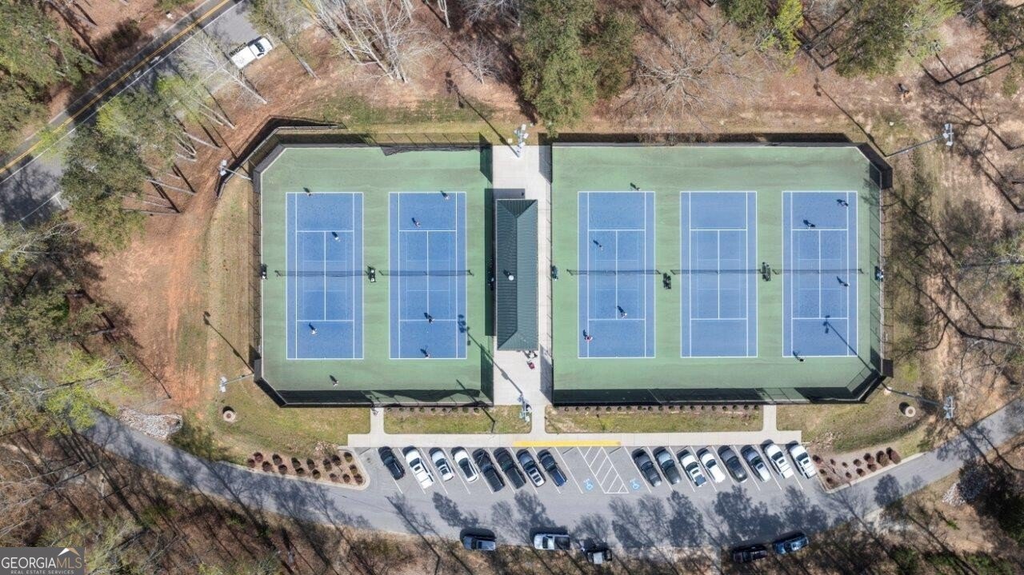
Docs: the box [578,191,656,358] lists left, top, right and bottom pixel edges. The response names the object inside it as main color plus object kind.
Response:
blue tennis court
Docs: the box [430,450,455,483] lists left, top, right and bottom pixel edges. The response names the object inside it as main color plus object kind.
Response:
white car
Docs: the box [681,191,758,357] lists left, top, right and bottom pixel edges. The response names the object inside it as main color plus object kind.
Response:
blue tennis court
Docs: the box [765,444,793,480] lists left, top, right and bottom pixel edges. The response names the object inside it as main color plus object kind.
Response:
white car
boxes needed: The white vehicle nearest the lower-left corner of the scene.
[404,450,433,488]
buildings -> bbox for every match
[495,199,538,351]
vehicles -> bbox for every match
[475,452,504,490]
[463,534,495,552]
[773,533,808,554]
[380,447,407,482]
[765,444,793,480]
[228,38,274,69]
[534,533,570,550]
[789,445,817,481]
[680,454,707,490]
[496,451,524,488]
[743,449,770,484]
[518,452,545,487]
[656,453,682,487]
[454,449,479,483]
[582,545,612,563]
[636,454,662,489]
[430,450,455,483]
[721,449,747,484]
[701,451,727,486]
[540,452,566,487]
[404,450,433,488]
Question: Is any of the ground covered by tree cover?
Yes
